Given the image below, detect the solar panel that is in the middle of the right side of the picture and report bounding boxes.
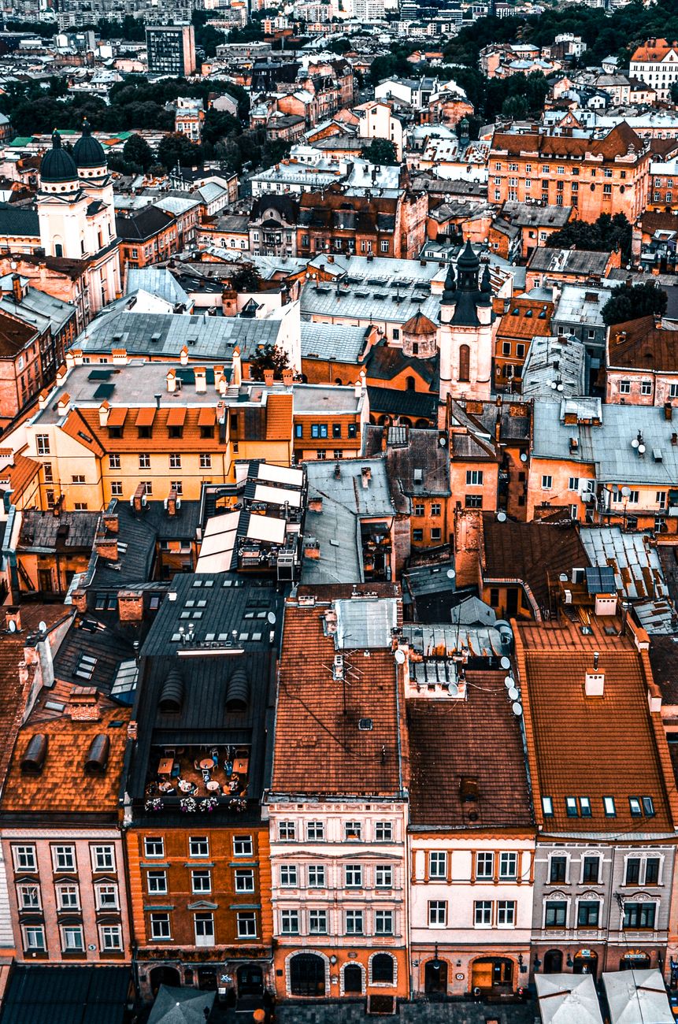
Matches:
[583,568,617,622]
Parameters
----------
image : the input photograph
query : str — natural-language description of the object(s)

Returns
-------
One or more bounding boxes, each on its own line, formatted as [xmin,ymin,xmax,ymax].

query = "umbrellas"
[603,970,675,1024]
[146,985,216,1024]
[535,974,603,1024]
